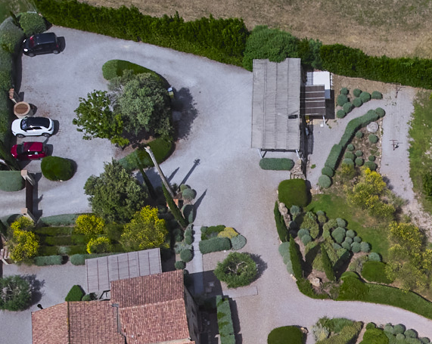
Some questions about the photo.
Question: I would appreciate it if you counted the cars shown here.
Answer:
3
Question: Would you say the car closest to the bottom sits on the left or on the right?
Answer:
left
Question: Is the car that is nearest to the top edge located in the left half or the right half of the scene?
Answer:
left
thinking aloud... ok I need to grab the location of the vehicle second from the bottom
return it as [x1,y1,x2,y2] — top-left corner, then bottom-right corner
[13,115,57,139]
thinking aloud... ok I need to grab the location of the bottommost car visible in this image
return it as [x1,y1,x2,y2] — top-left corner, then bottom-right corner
[11,139,50,163]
